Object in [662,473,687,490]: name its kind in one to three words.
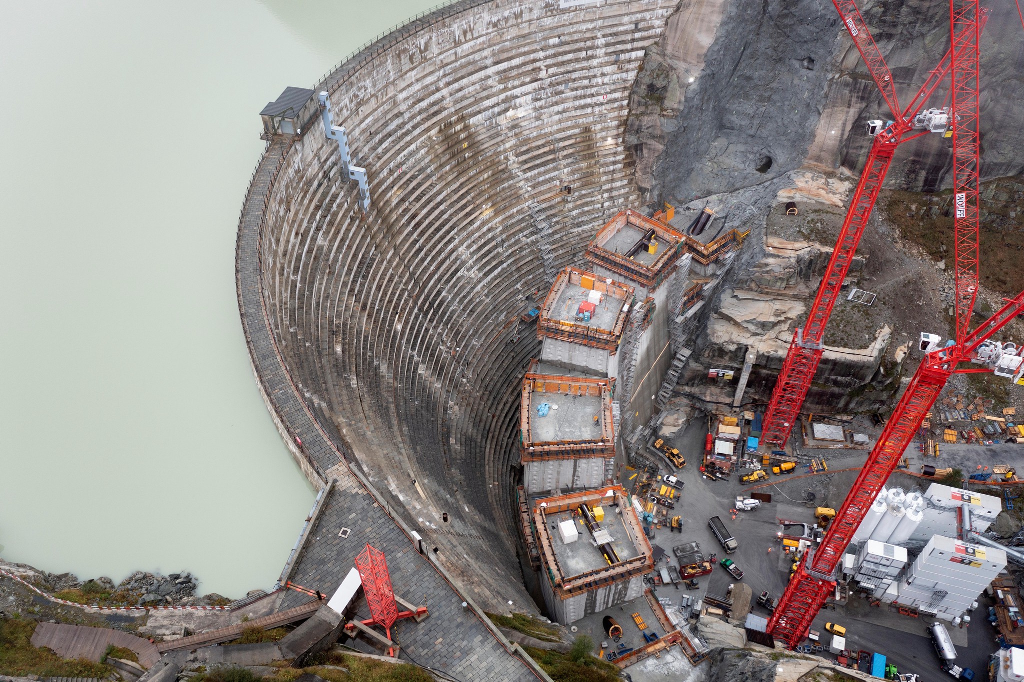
vehicle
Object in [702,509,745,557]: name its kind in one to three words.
truck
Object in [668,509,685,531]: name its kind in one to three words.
work vehicle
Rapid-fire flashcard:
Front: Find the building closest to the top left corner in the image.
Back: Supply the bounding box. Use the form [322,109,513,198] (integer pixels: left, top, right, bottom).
[249,87,312,146]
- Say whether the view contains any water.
Yes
